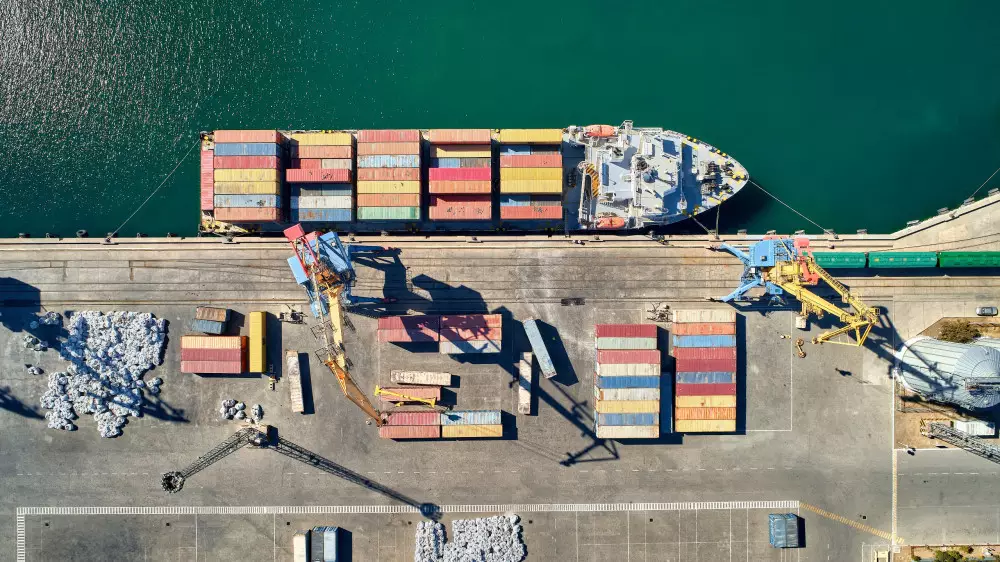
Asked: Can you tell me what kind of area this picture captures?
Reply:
port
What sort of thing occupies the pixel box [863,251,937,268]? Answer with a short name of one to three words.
rail car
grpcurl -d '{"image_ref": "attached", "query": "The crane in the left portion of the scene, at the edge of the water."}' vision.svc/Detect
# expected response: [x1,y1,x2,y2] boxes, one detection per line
[284,221,405,429]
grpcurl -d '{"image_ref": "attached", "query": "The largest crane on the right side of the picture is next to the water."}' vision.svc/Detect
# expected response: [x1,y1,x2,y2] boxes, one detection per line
[706,233,897,355]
